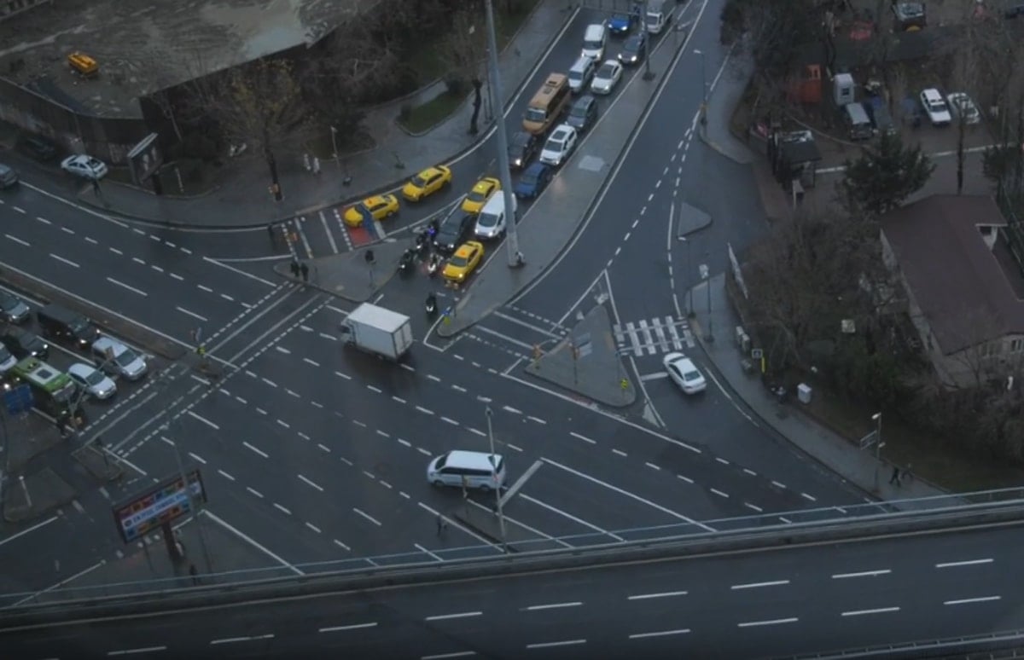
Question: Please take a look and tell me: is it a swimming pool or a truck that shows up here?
truck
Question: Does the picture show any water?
No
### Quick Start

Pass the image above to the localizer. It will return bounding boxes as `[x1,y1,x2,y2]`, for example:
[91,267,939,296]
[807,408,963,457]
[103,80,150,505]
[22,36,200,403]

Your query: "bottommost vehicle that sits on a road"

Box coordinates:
[426,449,508,492]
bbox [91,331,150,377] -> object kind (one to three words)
car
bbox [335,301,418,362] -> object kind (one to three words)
truck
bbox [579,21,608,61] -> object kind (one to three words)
van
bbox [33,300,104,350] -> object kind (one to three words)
vehicle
